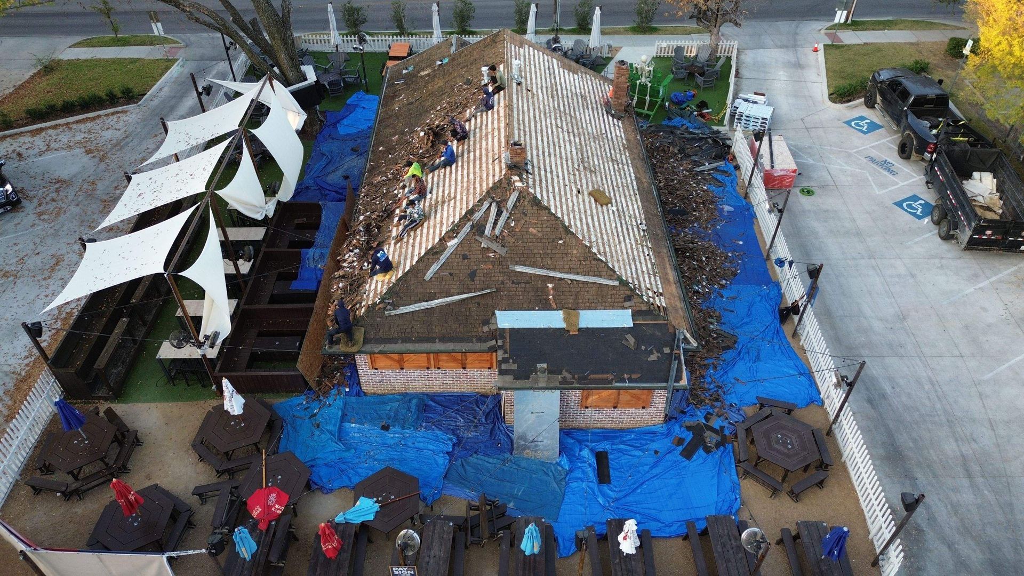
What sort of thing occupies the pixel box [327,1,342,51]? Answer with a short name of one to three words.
umbrella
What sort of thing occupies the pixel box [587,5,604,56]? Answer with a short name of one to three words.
umbrella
